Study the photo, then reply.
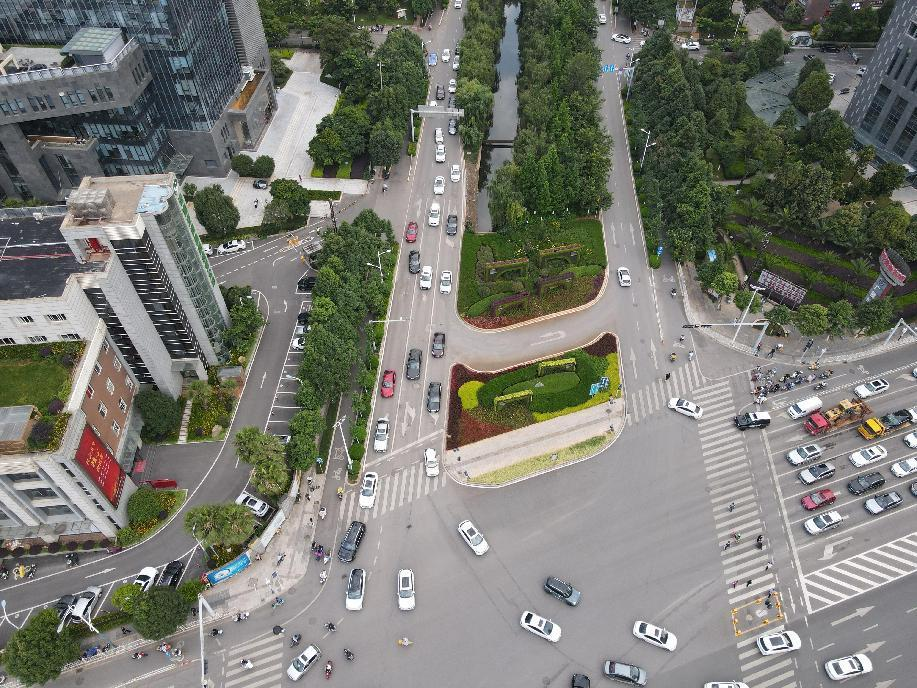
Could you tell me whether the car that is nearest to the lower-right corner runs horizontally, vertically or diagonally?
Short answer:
horizontally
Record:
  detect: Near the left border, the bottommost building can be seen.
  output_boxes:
[0,168,236,554]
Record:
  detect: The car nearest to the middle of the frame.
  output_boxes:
[431,333,445,358]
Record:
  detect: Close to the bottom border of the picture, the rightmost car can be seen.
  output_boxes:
[822,653,874,681]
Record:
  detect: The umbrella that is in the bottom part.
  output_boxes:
[269,619,283,633]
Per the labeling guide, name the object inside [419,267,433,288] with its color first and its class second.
white vehicle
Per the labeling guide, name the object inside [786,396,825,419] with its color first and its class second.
white vehicle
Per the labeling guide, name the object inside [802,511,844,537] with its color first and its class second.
white car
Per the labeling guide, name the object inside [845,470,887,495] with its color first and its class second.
gray car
